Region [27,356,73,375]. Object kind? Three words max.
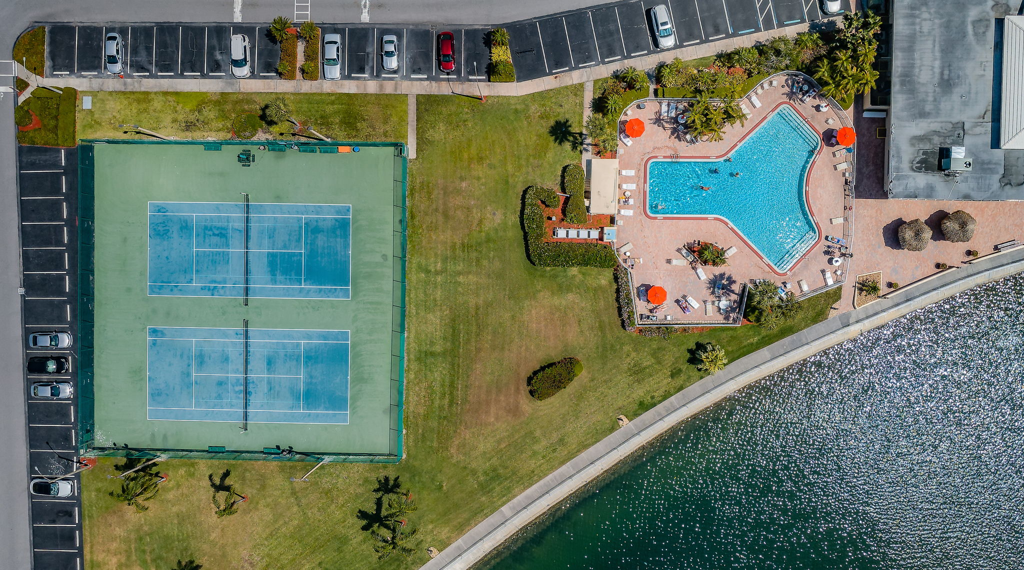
car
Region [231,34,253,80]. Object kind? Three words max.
car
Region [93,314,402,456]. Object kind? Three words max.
tennis court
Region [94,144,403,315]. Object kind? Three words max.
tennis court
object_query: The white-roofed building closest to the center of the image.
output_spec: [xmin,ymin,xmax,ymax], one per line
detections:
[587,159,619,215]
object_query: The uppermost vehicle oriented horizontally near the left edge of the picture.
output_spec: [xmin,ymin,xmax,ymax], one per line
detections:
[29,331,75,350]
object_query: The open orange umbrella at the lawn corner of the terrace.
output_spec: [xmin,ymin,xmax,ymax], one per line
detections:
[647,285,667,305]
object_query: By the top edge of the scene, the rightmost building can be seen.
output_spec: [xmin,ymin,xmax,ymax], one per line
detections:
[853,0,1024,199]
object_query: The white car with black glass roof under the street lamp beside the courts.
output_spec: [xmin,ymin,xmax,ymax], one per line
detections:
[31,477,76,498]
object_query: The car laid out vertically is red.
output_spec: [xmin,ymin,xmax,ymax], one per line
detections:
[436,30,456,74]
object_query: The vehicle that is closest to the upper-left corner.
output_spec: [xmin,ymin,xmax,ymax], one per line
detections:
[104,32,127,77]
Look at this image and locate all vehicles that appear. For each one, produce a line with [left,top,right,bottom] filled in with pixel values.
[104,32,127,77]
[231,34,253,80]
[31,477,76,498]
[27,356,73,375]
[322,33,342,81]
[436,30,456,74]
[820,0,838,18]
[31,381,76,400]
[651,4,674,50]
[381,33,399,73]
[29,331,75,350]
